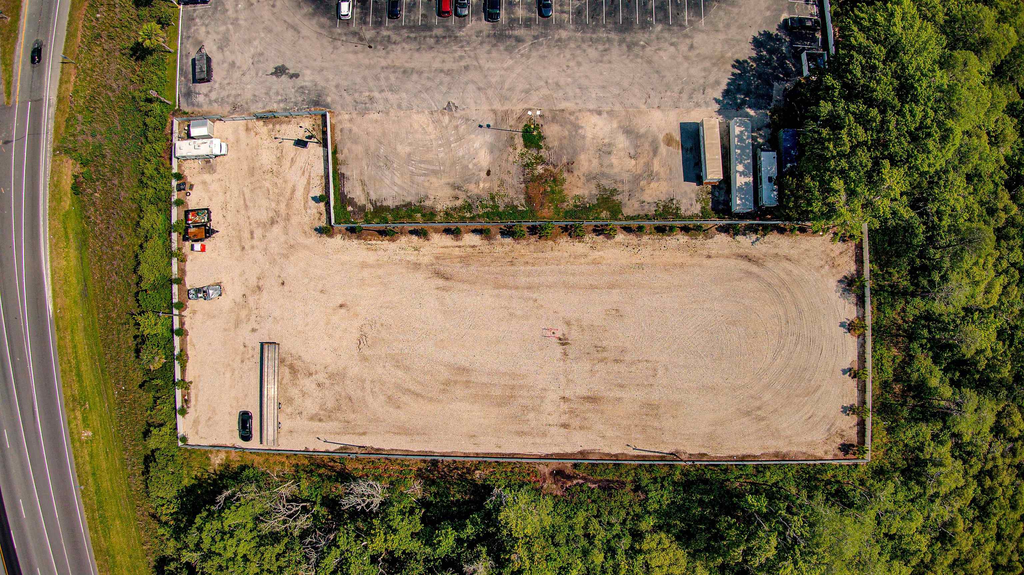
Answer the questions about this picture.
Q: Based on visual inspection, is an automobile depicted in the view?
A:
Yes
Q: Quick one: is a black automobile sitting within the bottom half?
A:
Yes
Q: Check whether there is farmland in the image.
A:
No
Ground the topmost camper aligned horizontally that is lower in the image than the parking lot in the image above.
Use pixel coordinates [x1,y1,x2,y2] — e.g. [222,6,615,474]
[176,139,234,160]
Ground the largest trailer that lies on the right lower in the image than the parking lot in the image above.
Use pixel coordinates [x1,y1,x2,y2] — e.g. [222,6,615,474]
[729,118,753,214]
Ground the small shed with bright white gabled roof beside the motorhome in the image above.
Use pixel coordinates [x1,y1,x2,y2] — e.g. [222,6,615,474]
[189,119,215,140]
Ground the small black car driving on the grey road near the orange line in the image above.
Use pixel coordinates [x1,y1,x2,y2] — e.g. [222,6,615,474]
[27,40,44,65]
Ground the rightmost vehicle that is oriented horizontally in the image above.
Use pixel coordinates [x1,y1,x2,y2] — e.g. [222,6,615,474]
[788,13,823,30]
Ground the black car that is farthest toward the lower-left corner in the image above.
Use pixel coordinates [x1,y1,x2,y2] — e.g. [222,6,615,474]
[237,411,253,442]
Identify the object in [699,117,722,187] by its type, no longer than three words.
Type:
trailer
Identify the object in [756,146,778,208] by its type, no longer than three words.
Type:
vehicle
